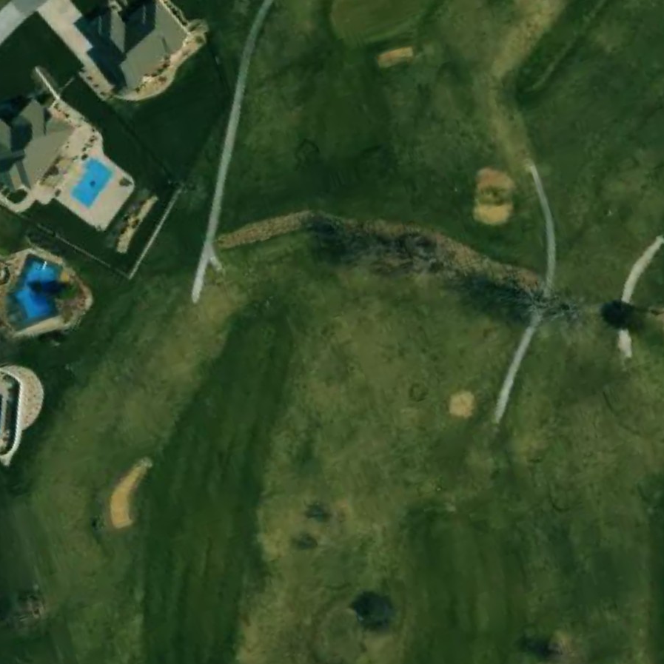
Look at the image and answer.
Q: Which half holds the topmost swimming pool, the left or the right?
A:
left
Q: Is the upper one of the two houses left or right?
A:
left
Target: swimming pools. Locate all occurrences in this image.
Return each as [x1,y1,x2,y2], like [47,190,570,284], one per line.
[6,253,61,331]
[23,131,134,231]
[0,372,17,451]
